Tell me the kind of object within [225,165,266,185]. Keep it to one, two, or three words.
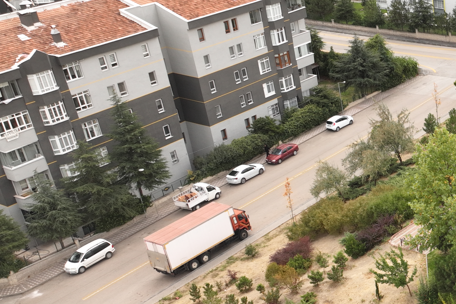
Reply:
car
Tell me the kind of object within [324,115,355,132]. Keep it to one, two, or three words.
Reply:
car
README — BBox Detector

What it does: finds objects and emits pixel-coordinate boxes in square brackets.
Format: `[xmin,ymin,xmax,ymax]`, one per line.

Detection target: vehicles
[324,115,355,132]
[264,144,299,165]
[60,240,115,276]
[225,165,266,185]
[137,206,250,279]
[165,181,224,211]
